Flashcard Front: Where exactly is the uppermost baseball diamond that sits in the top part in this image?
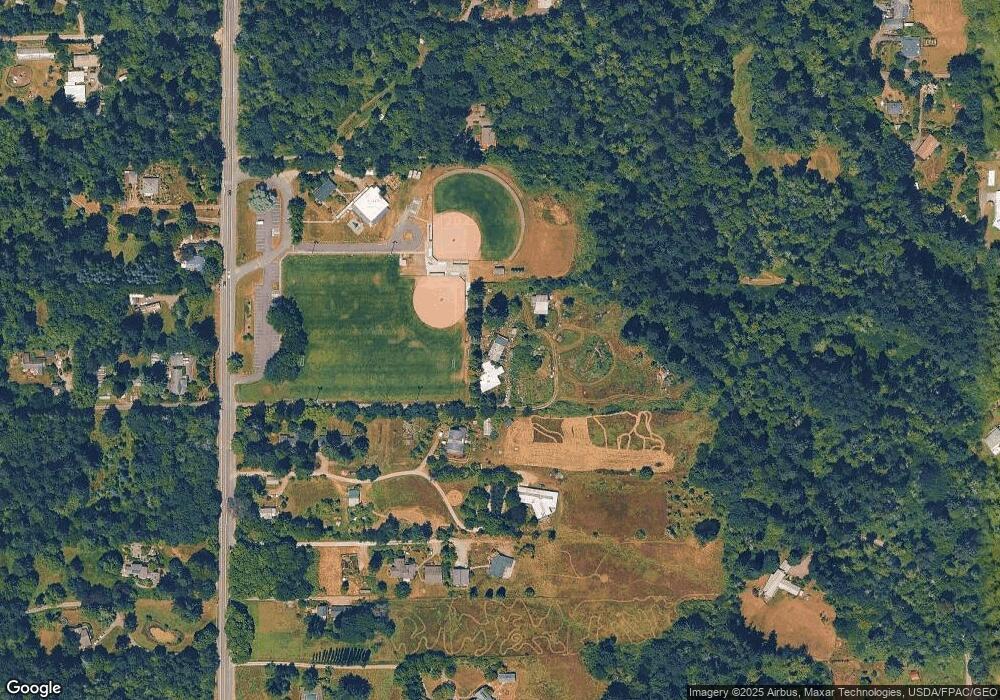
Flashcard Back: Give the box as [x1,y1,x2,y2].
[432,169,526,262]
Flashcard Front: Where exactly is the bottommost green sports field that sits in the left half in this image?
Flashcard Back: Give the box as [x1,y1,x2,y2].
[238,255,467,400]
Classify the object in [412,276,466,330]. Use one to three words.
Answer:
baseball field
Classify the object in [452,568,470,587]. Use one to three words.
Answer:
barn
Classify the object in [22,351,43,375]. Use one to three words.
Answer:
house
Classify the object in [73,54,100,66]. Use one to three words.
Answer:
shed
